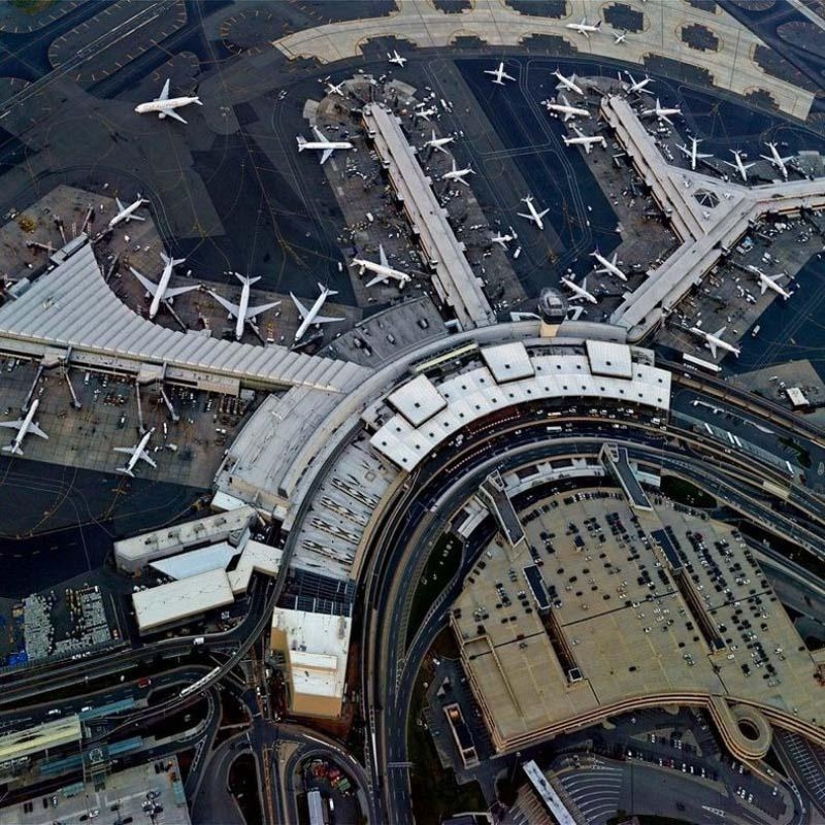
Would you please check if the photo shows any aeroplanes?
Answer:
Yes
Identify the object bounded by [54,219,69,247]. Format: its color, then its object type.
gray jet bridge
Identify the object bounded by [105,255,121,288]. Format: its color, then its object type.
gray jet bridge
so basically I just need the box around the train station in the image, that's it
[0,690,84,771]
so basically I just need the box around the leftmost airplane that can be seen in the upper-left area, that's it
[110,193,150,226]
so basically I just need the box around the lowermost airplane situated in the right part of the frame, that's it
[690,327,743,359]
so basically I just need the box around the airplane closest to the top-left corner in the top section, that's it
[135,77,205,124]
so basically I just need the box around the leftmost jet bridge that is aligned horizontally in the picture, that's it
[27,239,60,253]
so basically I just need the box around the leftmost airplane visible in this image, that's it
[0,400,52,454]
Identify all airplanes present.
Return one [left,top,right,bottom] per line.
[207,272,282,342]
[0,400,52,454]
[116,429,162,475]
[563,125,606,154]
[428,130,459,154]
[324,76,345,96]
[559,275,596,305]
[723,146,757,182]
[646,96,685,125]
[759,139,794,181]
[296,126,352,164]
[551,67,582,95]
[676,135,715,169]
[444,162,478,188]
[748,267,794,299]
[349,244,411,288]
[110,193,150,226]
[287,283,346,342]
[624,71,657,96]
[591,246,627,281]
[135,77,205,124]
[566,17,599,37]
[483,63,516,84]
[612,27,630,45]
[128,251,201,320]
[690,327,743,359]
[548,94,589,121]
[518,191,553,230]
[493,228,515,247]
[412,102,438,118]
